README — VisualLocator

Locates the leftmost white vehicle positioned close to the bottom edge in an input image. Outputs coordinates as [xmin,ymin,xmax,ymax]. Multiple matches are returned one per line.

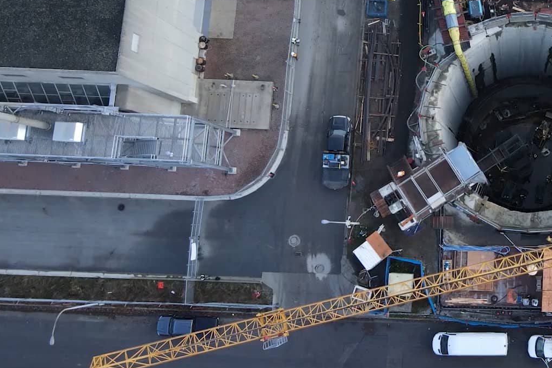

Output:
[431,331,512,363]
